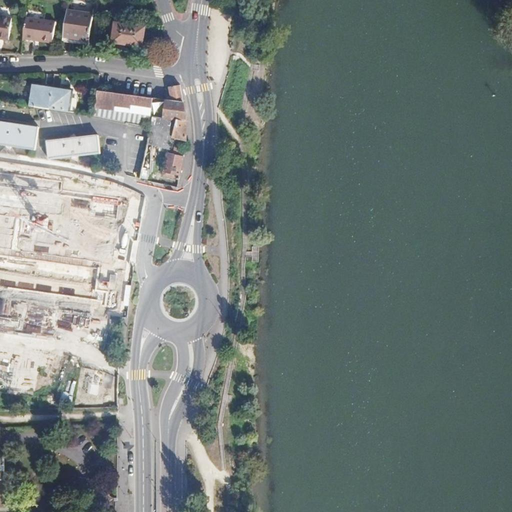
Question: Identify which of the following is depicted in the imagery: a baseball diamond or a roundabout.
roundabout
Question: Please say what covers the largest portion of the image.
water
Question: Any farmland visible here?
No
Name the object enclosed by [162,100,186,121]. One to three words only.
house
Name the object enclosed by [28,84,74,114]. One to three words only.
building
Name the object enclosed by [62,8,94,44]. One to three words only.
house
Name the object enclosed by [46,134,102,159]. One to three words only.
building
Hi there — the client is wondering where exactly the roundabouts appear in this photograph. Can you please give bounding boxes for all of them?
[132,252,218,352]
